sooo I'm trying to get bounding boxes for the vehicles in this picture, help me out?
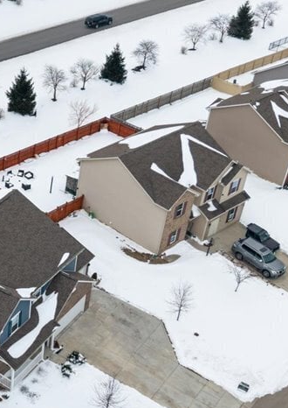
[232,235,285,274]
[85,12,112,30]
[239,217,286,254]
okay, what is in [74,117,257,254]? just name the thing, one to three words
house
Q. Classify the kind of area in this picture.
residential area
